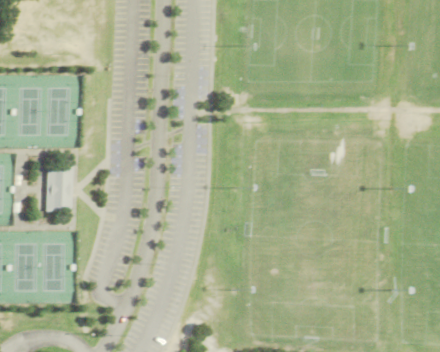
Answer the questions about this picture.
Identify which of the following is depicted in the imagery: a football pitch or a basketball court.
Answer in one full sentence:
Of the two, only a football pitch appears.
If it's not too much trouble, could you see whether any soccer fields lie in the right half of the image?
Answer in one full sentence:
Yes, looking in the right half of the image, one can make out a soccer field.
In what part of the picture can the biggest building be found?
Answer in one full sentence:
Look in the left portion of the view to spot the biggest building.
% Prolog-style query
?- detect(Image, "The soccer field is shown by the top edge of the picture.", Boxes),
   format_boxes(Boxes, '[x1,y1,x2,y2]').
[248,0,377,82]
